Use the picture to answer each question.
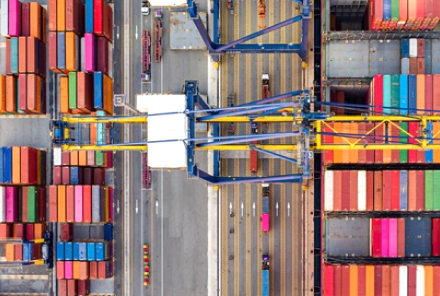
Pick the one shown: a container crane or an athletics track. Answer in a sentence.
Visible in the photo is a container crane.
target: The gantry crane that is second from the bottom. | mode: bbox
[47,83,440,188]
